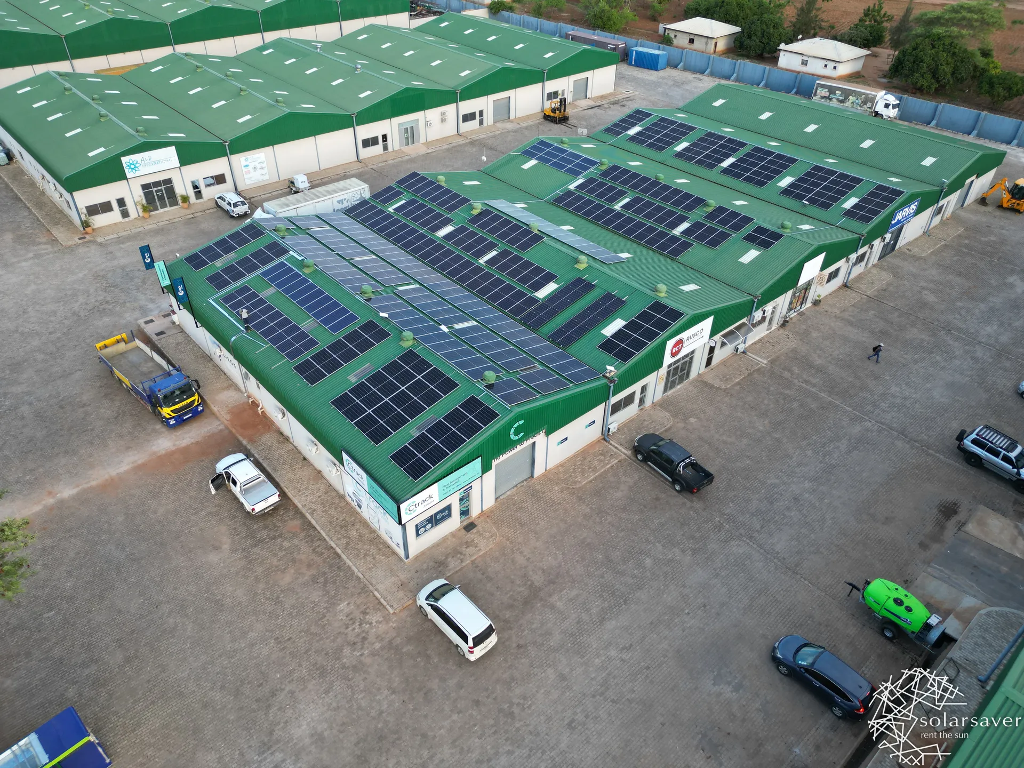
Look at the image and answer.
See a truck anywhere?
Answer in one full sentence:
Yes, you can see a truck in this photo.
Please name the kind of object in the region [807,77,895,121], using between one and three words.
truck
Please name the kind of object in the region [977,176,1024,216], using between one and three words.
work vehicle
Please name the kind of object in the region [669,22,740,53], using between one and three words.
house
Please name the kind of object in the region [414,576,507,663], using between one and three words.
car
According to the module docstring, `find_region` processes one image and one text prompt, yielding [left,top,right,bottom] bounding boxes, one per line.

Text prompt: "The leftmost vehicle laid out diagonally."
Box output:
[90,323,203,425]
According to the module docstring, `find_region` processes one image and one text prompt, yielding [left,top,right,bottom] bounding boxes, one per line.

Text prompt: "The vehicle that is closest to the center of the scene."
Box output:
[631,431,715,496]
